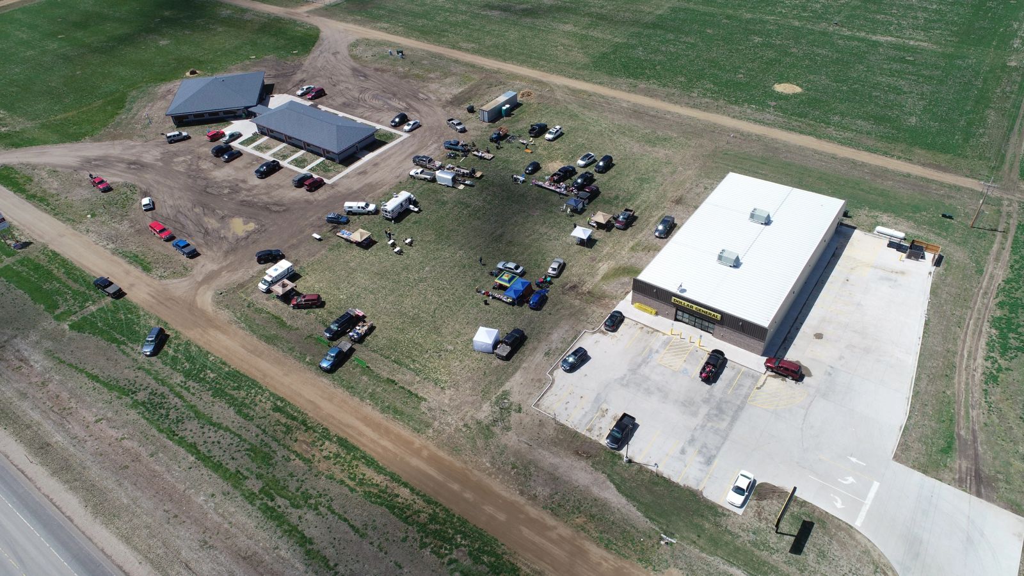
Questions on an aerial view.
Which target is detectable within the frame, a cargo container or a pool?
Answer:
cargo container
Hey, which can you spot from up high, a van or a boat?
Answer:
van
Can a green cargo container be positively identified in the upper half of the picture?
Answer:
No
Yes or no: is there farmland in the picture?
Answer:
Yes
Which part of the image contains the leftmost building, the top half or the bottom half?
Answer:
top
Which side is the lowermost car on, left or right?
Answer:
right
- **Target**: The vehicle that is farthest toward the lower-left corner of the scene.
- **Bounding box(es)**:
[141,326,165,355]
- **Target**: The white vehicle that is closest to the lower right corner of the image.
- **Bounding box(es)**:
[727,469,757,508]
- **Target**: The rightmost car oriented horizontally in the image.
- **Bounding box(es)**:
[763,359,805,379]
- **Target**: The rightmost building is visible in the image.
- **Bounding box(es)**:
[633,171,852,355]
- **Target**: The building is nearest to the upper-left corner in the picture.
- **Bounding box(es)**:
[166,72,263,125]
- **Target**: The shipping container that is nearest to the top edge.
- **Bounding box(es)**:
[479,92,518,122]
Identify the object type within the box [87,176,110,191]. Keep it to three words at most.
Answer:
vehicle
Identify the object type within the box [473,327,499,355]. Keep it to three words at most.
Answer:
tent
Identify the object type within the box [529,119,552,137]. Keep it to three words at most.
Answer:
car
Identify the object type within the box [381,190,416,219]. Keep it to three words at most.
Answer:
bus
